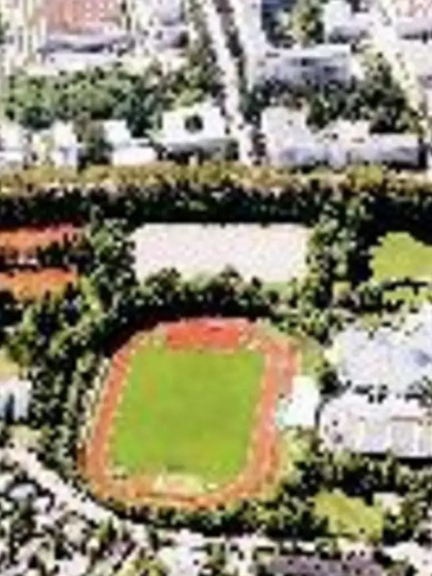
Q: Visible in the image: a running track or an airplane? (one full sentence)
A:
There is a running track in the scene.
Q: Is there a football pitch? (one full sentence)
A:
Yes, there is a football pitch in the image.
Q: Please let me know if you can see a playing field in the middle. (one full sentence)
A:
Yes, a playing field appears in the middle.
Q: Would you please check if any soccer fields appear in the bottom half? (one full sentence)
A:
Yes, you'll find a soccer field in the bottom half.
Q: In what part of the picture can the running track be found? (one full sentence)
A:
The running track appears toward the bottom of the photo.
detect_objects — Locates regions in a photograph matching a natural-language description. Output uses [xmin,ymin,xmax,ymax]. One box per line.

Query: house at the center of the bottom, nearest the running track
[160,526,185,542]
